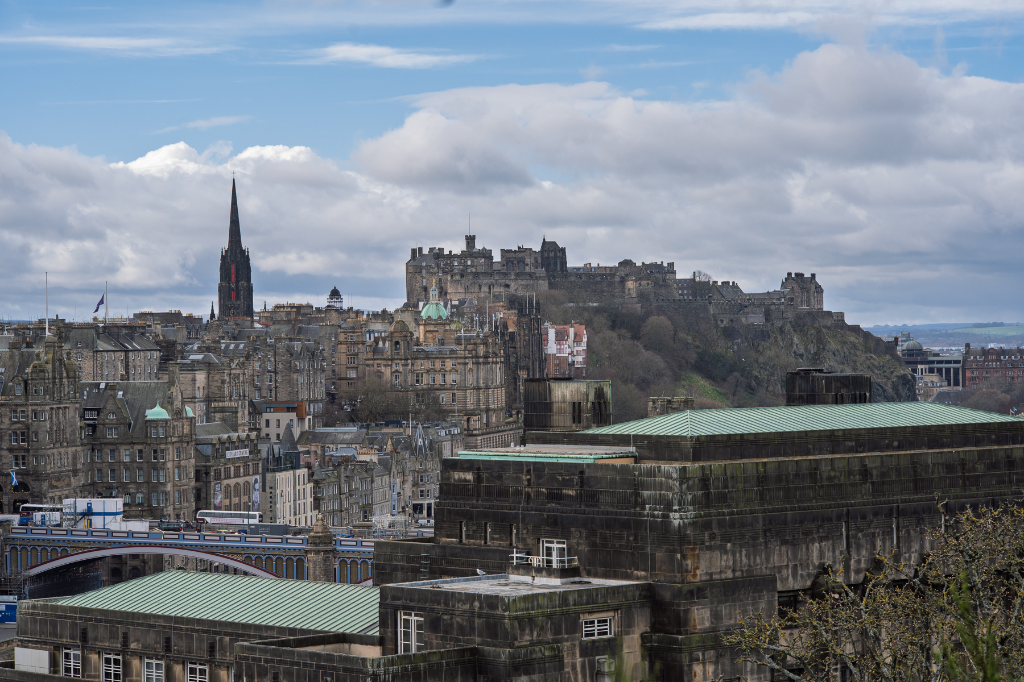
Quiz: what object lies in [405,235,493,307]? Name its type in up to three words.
building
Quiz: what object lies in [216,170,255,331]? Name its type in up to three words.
building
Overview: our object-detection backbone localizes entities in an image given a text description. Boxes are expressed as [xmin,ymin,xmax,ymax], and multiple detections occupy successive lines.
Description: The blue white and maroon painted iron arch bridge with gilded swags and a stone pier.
[0,515,435,624]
